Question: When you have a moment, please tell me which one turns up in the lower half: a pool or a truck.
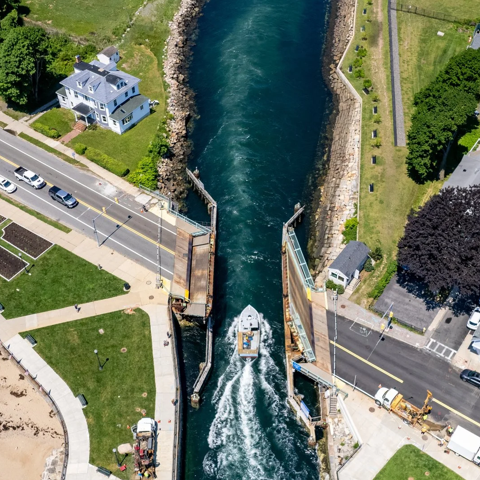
truck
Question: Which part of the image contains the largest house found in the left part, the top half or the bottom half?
top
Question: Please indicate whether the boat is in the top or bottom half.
bottom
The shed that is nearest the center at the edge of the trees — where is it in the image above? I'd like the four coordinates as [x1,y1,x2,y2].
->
[327,242,372,301]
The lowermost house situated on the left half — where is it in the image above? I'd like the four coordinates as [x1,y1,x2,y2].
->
[56,58,149,134]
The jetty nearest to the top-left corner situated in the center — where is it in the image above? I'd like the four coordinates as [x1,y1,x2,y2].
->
[184,165,219,232]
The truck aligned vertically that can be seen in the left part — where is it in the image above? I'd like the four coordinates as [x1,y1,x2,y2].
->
[132,418,156,472]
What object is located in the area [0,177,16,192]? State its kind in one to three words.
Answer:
car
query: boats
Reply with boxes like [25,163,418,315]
[237,303,260,358]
